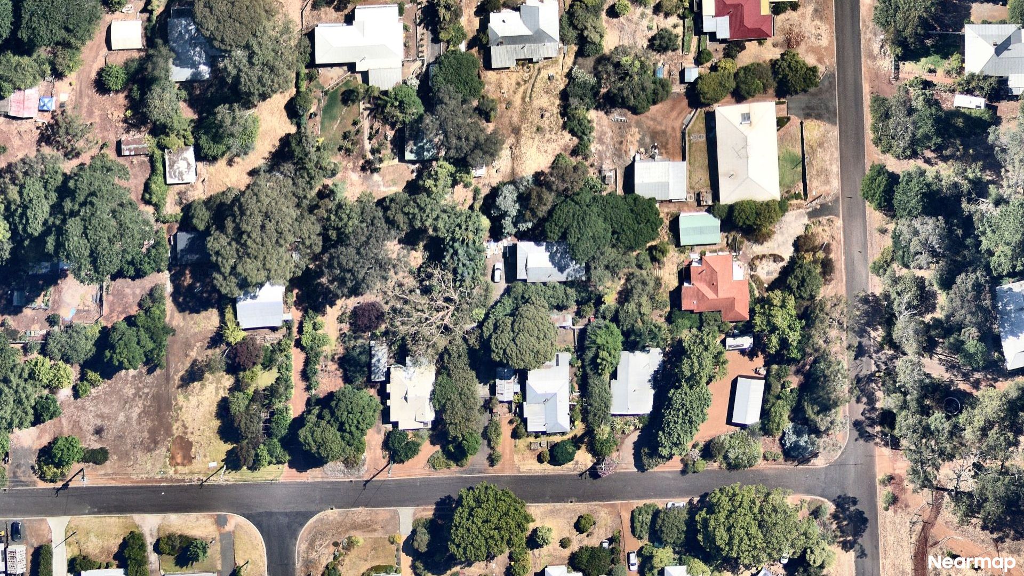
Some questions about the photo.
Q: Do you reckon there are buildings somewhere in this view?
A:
Yes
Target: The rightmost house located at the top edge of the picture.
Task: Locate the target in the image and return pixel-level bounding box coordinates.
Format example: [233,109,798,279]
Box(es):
[964,22,1024,96]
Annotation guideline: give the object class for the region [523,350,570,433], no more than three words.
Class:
house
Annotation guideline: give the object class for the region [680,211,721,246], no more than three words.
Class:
shed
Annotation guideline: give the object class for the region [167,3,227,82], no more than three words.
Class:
house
